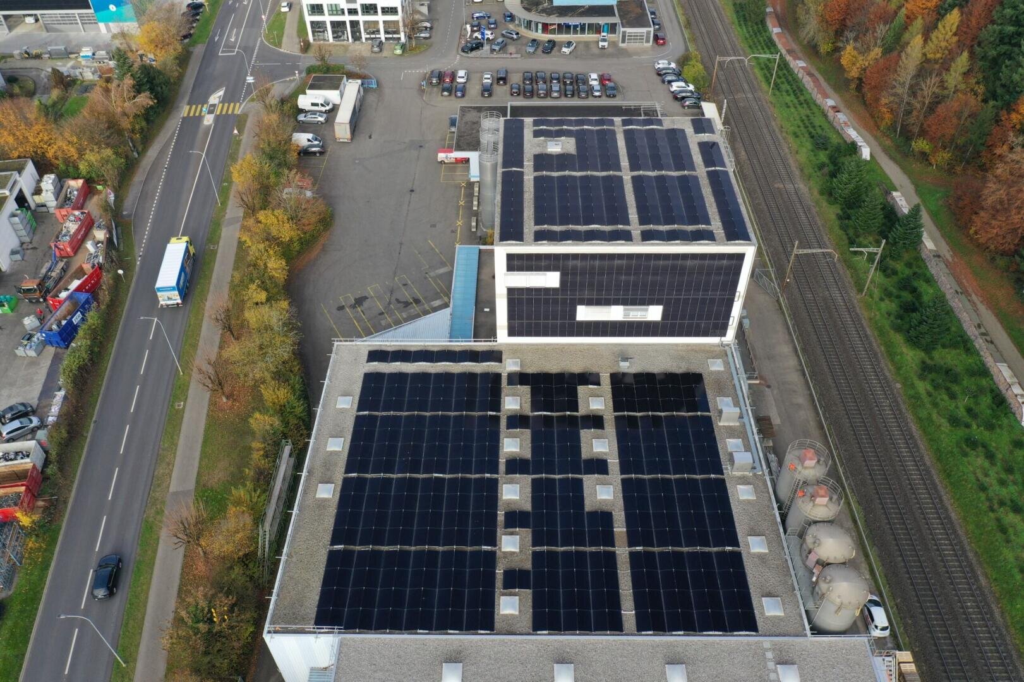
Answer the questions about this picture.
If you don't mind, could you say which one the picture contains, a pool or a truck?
truck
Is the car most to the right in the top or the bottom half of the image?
bottom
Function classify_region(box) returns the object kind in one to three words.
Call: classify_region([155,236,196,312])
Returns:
truck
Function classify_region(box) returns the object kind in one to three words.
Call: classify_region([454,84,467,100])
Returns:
vehicle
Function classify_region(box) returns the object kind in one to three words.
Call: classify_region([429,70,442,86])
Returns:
vehicle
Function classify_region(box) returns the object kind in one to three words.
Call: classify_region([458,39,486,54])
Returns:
car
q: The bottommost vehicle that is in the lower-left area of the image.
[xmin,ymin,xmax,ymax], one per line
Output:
[90,554,124,605]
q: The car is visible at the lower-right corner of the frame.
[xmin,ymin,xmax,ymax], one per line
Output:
[862,591,897,647]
